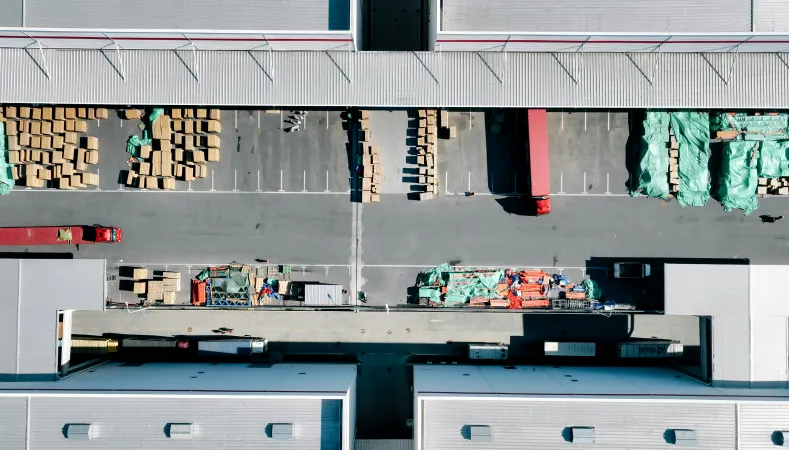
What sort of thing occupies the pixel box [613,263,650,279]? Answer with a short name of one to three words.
vehicle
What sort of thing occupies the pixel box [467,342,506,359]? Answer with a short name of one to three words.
vehicle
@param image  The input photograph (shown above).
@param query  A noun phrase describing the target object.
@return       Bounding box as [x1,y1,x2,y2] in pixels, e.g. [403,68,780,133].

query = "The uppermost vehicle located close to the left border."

[0,226,126,247]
